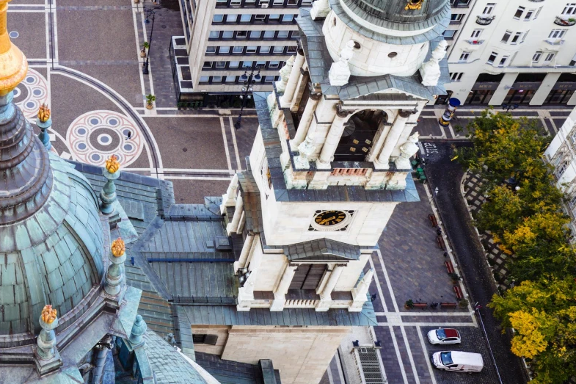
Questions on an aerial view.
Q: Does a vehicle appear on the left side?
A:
No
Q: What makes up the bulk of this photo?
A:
buildings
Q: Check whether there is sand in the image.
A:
No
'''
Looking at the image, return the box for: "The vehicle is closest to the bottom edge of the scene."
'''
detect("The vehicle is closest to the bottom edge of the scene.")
[433,346,489,373]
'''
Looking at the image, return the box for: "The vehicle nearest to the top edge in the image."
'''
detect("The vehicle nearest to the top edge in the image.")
[427,324,467,345]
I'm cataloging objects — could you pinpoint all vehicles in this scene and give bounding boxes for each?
[427,324,467,345]
[433,346,489,373]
